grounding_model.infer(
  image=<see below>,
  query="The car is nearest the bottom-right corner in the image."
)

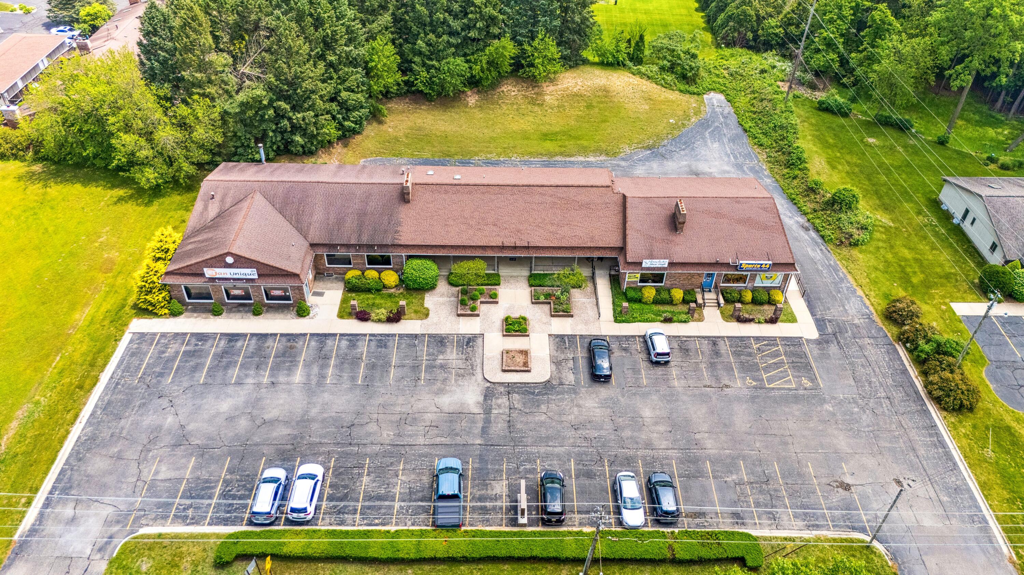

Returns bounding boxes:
[648,473,681,523]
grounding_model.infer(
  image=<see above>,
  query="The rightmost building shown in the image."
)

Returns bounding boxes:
[938,175,1024,263]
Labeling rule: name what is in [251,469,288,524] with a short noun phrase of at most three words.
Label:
car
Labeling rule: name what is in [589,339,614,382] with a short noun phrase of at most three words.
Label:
car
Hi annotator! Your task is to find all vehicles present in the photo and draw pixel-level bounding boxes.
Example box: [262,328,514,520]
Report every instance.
[644,329,672,364]
[251,469,288,524]
[539,471,568,526]
[648,473,681,523]
[614,471,646,530]
[288,465,324,522]
[589,339,614,382]
[48,24,83,39]
[434,457,464,528]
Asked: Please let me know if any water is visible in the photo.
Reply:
No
